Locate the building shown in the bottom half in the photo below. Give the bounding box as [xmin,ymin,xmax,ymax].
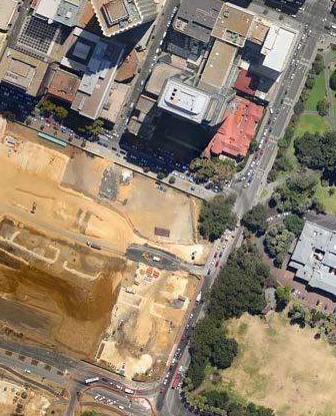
[288,222,336,295]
